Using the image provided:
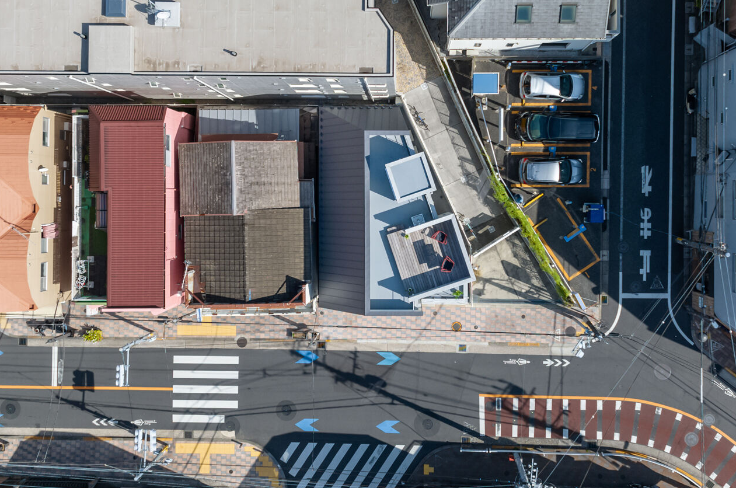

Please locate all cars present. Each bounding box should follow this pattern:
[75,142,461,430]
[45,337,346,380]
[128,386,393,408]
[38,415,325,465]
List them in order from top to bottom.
[518,69,583,102]
[514,109,604,146]
[517,155,582,188]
